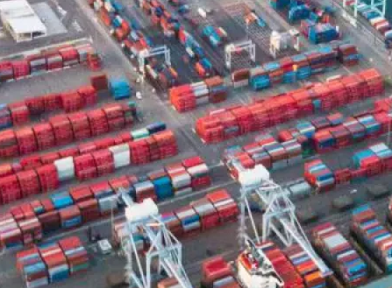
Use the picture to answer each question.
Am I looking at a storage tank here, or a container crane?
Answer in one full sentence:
It is a container crane that can be seen here.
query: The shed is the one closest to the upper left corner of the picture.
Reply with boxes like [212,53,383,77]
[0,0,47,43]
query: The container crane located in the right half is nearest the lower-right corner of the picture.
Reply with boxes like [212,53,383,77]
[227,167,334,282]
